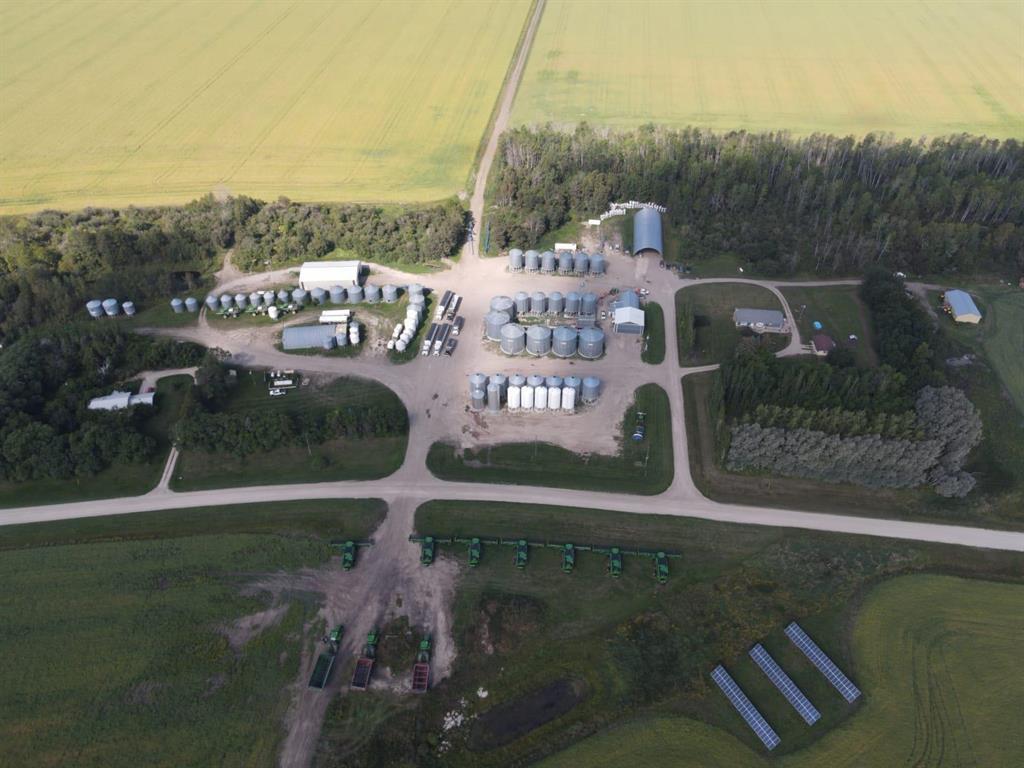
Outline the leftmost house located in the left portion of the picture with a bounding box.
[87,382,161,413]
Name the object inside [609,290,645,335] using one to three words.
building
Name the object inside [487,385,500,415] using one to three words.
silo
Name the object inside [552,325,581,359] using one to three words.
silo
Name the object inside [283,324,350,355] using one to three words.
shed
